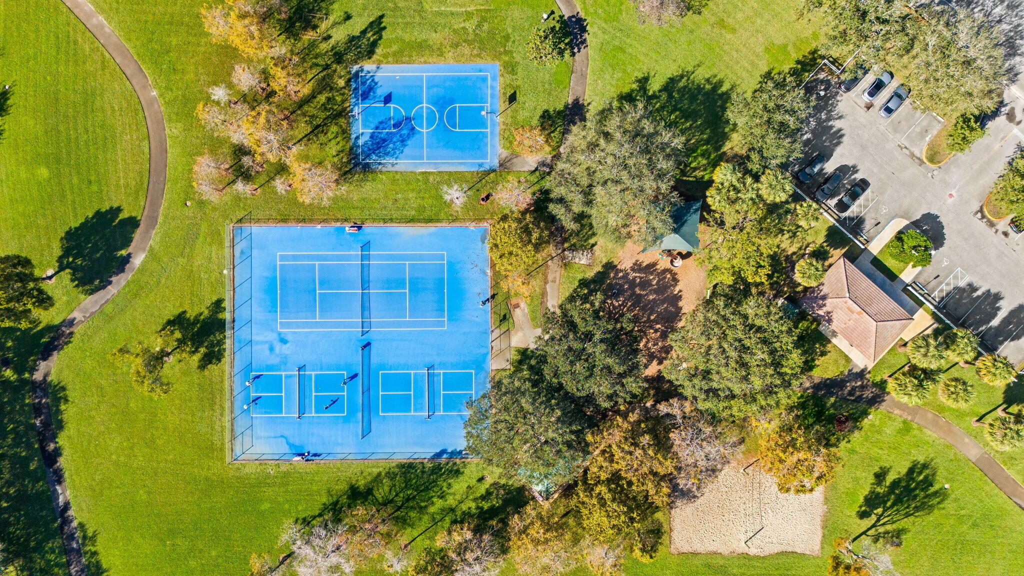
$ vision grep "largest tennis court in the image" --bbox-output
[230,223,492,463]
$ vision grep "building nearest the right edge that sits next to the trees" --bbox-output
[802,255,914,364]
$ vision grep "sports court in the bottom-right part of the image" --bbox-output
[666,459,828,559]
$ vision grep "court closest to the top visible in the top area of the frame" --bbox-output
[350,62,500,173]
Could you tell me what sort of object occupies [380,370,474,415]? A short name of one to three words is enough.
sports court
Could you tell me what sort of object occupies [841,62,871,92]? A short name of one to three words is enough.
car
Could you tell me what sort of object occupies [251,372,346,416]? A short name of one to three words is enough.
sports court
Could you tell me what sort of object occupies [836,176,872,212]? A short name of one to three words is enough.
car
